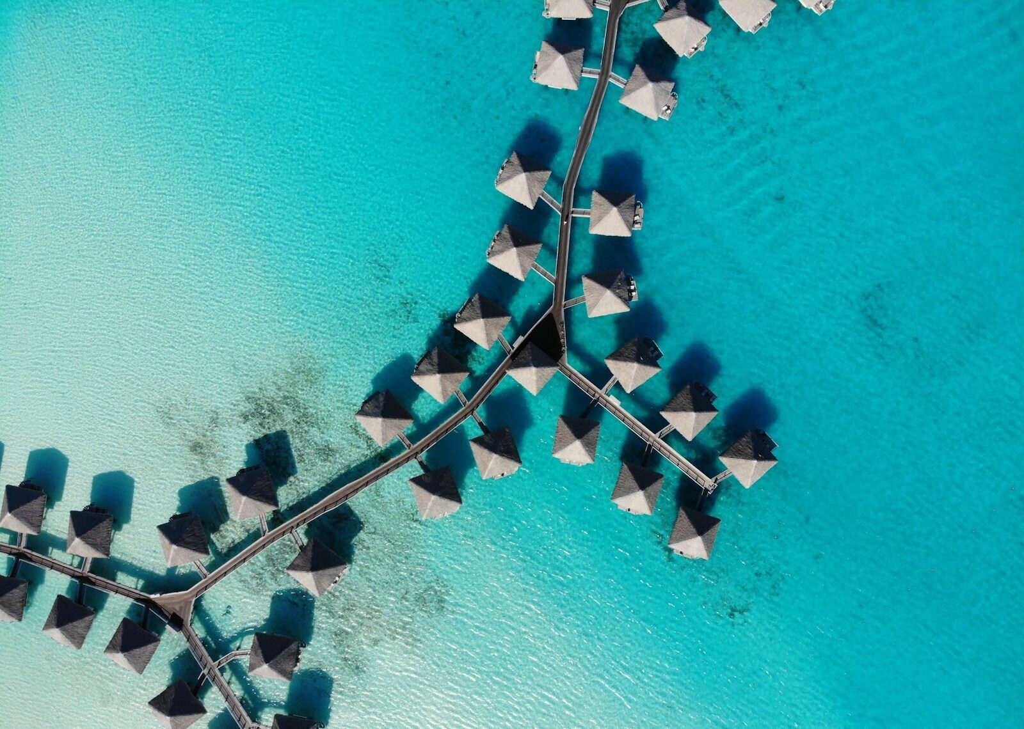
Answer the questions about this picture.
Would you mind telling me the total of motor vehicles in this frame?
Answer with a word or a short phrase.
zero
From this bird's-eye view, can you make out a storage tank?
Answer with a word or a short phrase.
No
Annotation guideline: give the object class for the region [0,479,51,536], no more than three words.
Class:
house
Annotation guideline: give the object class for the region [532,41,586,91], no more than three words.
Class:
house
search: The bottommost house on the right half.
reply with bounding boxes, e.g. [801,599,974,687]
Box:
[666,503,723,562]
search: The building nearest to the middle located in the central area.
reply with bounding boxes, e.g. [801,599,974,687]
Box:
[505,339,561,397]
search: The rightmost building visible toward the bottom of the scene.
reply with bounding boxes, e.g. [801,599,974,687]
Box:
[718,428,779,490]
